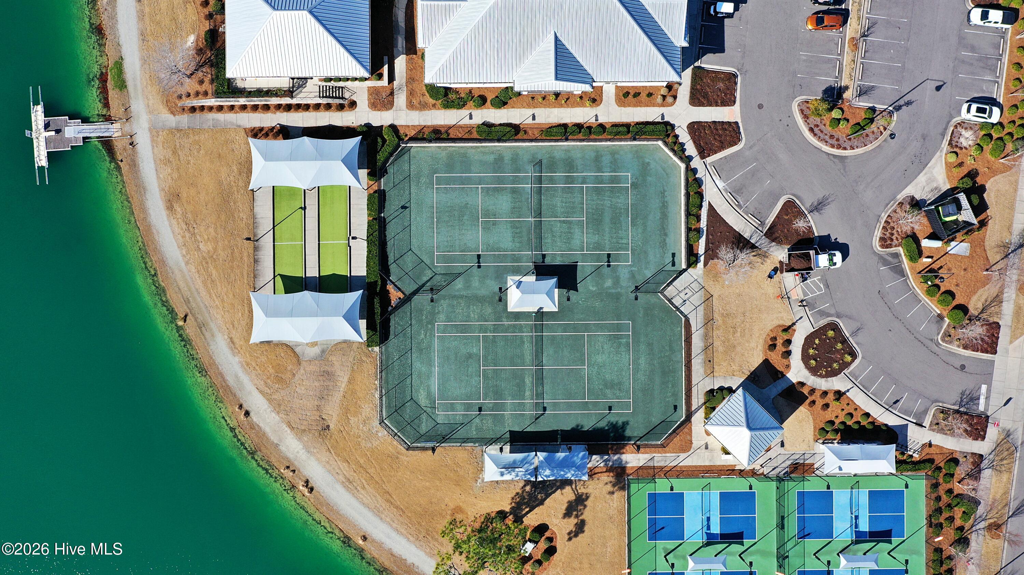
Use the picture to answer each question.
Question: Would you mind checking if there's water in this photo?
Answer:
Yes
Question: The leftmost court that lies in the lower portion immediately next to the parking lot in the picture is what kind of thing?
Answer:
tennis court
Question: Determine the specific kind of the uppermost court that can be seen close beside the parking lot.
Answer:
tennis court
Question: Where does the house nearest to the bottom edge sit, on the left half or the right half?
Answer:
right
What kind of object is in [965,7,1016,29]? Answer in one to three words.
truck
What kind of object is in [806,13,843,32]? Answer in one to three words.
car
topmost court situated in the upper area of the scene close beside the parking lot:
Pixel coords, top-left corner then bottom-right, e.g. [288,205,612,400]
[382,141,683,296]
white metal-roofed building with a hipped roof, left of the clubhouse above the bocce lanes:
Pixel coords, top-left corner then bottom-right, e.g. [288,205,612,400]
[224,0,372,80]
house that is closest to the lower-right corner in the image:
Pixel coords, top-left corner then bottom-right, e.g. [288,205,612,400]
[701,387,785,469]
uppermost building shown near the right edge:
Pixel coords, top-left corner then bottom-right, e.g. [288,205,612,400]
[916,192,978,239]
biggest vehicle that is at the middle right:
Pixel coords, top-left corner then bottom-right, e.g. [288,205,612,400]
[782,250,841,274]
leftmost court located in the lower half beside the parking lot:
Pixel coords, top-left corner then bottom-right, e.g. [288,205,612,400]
[382,293,684,445]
